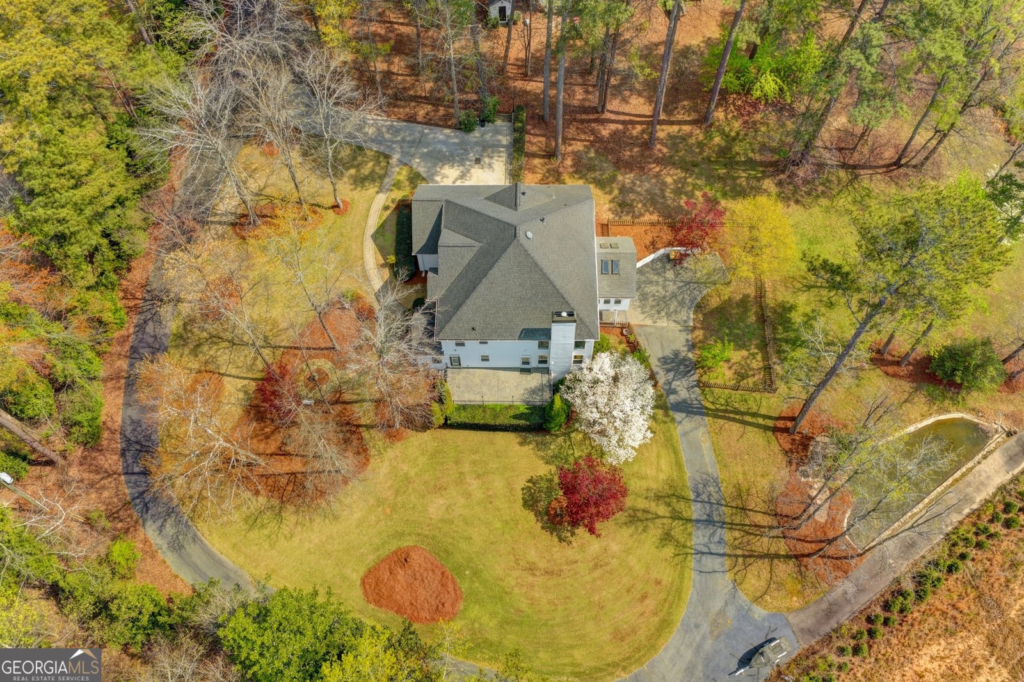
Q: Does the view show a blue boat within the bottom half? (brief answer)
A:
No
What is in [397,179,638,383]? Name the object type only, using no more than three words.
house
